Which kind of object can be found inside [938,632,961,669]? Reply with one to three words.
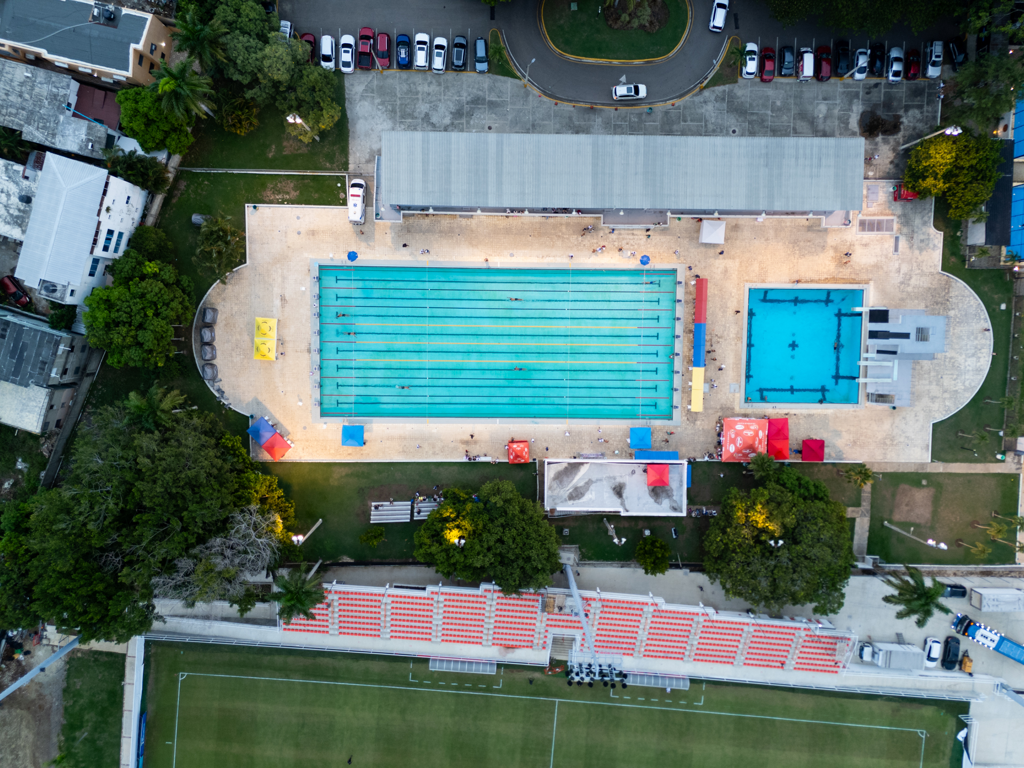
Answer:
car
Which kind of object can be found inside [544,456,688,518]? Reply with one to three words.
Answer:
building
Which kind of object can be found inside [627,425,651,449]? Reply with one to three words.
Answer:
tent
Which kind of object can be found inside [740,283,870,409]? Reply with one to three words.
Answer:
swimming pool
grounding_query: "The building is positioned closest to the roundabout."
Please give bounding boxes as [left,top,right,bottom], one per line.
[374,132,865,230]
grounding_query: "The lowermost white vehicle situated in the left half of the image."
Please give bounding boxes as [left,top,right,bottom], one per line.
[347,179,368,225]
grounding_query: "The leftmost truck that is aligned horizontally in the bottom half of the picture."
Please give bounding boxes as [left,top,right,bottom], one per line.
[861,644,926,673]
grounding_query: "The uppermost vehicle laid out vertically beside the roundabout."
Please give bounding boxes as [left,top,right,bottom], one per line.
[707,0,730,37]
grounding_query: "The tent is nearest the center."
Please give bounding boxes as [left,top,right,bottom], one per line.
[509,440,529,463]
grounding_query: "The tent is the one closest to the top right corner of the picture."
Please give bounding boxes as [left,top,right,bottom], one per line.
[697,220,726,246]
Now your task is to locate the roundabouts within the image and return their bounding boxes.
[534,0,698,70]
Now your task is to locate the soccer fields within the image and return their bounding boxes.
[139,640,968,768]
